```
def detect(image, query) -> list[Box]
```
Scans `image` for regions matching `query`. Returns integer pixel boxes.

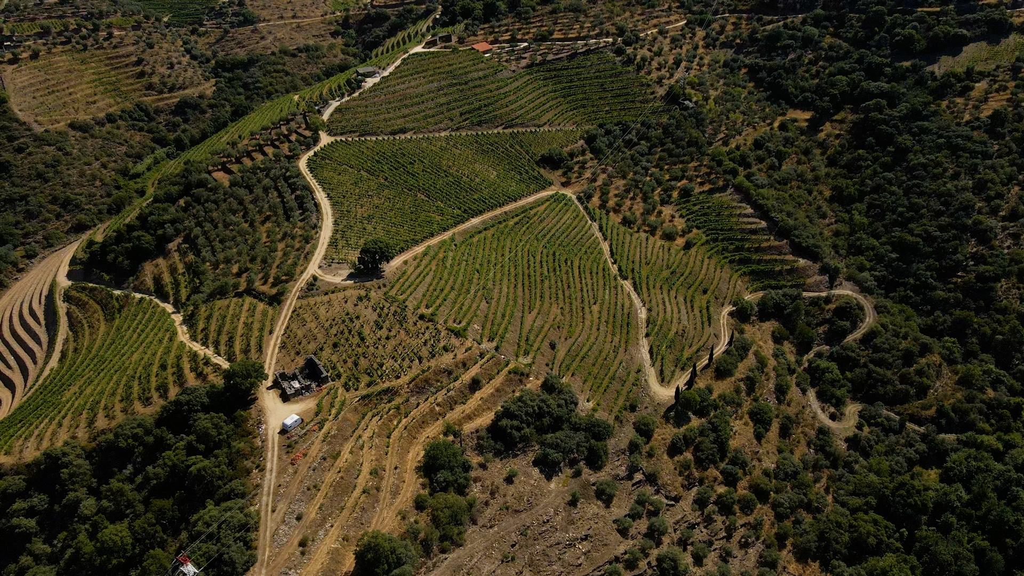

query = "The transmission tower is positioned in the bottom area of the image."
[177,550,200,576]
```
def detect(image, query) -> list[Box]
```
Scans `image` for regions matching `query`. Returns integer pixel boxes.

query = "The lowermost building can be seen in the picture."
[274,353,332,401]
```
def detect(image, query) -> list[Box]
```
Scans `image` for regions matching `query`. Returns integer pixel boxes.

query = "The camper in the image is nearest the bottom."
[280,411,304,429]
